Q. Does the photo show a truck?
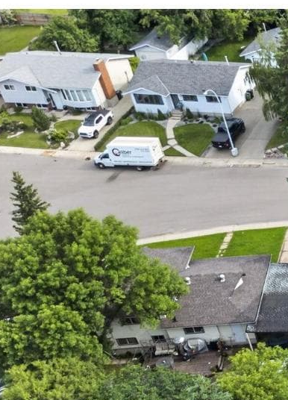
Yes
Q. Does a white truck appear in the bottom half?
No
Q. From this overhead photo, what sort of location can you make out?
residential area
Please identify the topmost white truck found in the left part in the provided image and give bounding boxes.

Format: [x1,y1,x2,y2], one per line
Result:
[75,108,115,135]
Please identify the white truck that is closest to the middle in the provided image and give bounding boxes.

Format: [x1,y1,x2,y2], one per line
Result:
[94,133,167,169]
